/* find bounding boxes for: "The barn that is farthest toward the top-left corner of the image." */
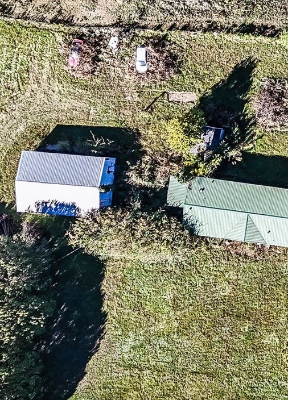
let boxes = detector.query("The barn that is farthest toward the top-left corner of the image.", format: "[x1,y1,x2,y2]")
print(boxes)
[10,151,117,215]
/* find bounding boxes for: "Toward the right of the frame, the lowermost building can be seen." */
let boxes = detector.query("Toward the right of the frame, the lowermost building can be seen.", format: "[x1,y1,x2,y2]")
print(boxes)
[166,175,288,245]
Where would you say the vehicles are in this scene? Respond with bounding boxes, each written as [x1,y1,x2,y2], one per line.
[67,39,83,67]
[134,45,149,74]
